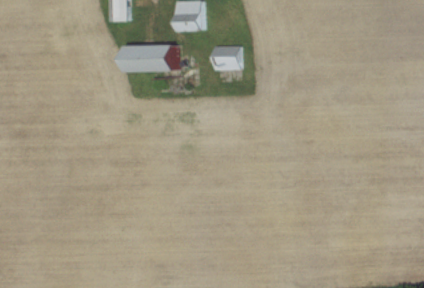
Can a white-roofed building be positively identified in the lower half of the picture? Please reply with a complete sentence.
No, there's no white-roofed building to be seen in the lower half of the picture.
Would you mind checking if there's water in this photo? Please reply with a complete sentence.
No, the scene doesn't show any water.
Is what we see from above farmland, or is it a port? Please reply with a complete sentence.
This looks like farmland.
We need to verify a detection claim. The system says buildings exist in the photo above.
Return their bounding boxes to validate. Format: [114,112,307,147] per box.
[171,0,206,32]
[210,47,243,71]
[114,46,180,72]
[109,0,132,23]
